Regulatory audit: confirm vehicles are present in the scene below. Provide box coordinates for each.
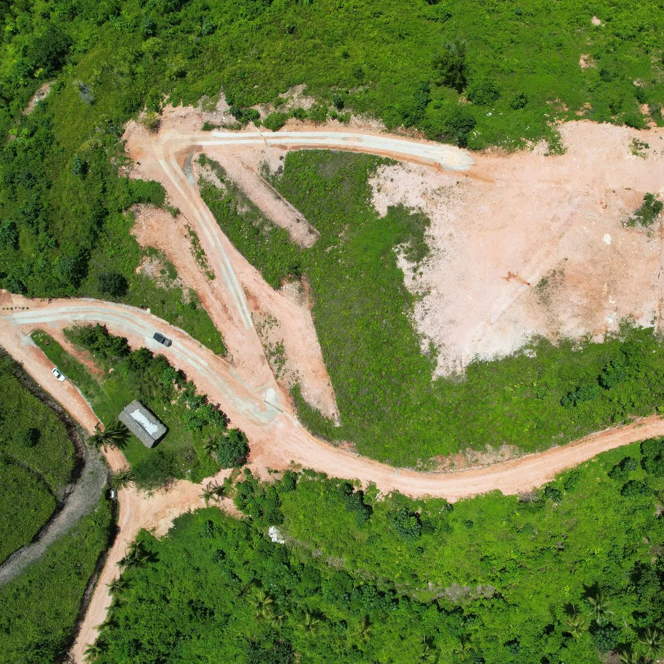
[51,367,67,381]
[154,331,173,346]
